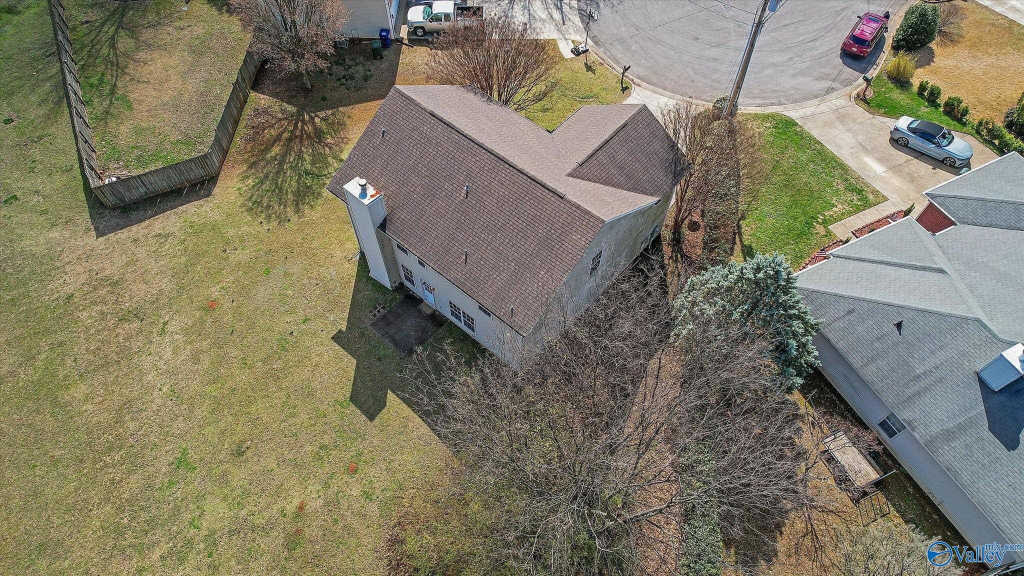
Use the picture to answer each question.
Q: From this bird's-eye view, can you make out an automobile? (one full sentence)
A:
Yes, the frame does contain an automobile.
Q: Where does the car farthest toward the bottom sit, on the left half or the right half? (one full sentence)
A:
You can find the car farthest toward the bottom on the right side of the picture.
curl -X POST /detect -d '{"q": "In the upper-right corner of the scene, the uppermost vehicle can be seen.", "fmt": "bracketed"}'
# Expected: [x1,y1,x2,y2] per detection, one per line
[844,13,892,59]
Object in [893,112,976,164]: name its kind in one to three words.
car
